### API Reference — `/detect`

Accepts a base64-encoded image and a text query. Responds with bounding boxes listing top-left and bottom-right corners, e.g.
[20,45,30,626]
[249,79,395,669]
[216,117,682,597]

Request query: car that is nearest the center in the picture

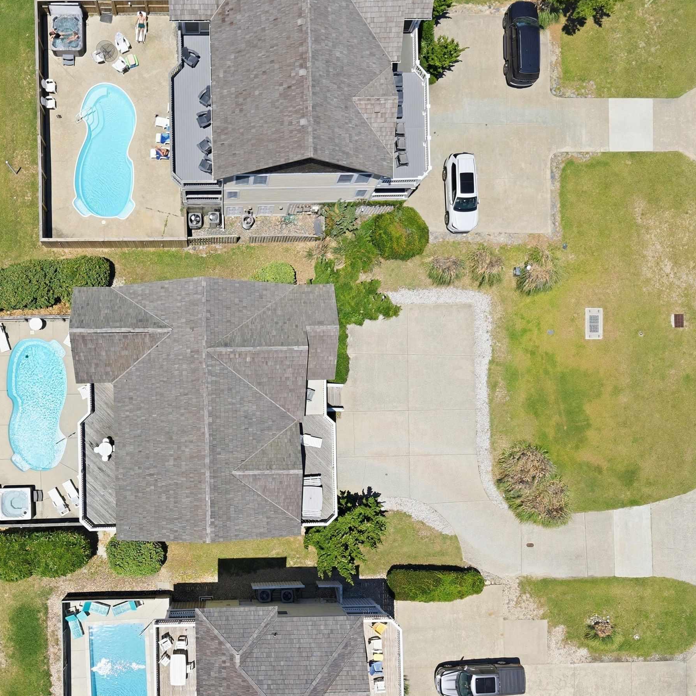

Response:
[437,153,478,234]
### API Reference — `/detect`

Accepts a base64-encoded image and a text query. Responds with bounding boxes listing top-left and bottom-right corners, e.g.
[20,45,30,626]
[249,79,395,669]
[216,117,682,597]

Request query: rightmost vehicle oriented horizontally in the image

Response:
[431,656,528,696]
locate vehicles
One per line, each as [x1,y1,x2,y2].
[437,153,478,234]
[496,4,539,93]
[431,656,528,696]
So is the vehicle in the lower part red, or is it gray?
gray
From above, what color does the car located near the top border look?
black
